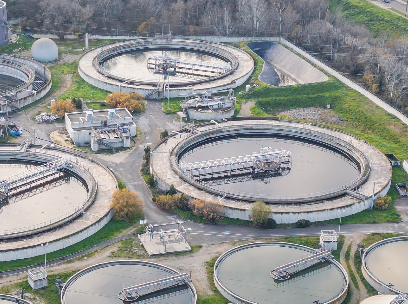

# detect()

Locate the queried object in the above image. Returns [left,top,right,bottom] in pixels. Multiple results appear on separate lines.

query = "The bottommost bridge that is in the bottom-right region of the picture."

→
[270,248,335,281]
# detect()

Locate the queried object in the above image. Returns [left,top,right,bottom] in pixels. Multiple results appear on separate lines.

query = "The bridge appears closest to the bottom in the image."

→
[118,270,192,301]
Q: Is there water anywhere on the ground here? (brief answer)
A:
Yes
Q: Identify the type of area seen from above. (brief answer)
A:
industrial area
